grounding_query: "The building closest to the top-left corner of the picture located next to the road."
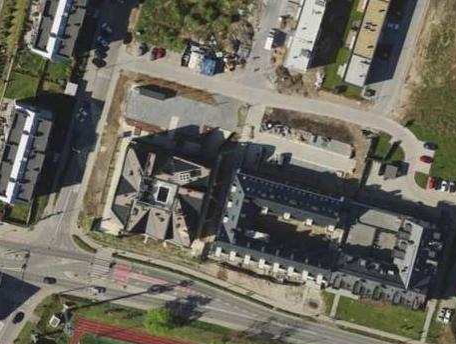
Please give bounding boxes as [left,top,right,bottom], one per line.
[31,0,90,66]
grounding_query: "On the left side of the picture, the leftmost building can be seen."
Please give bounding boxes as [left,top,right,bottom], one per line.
[0,100,53,212]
